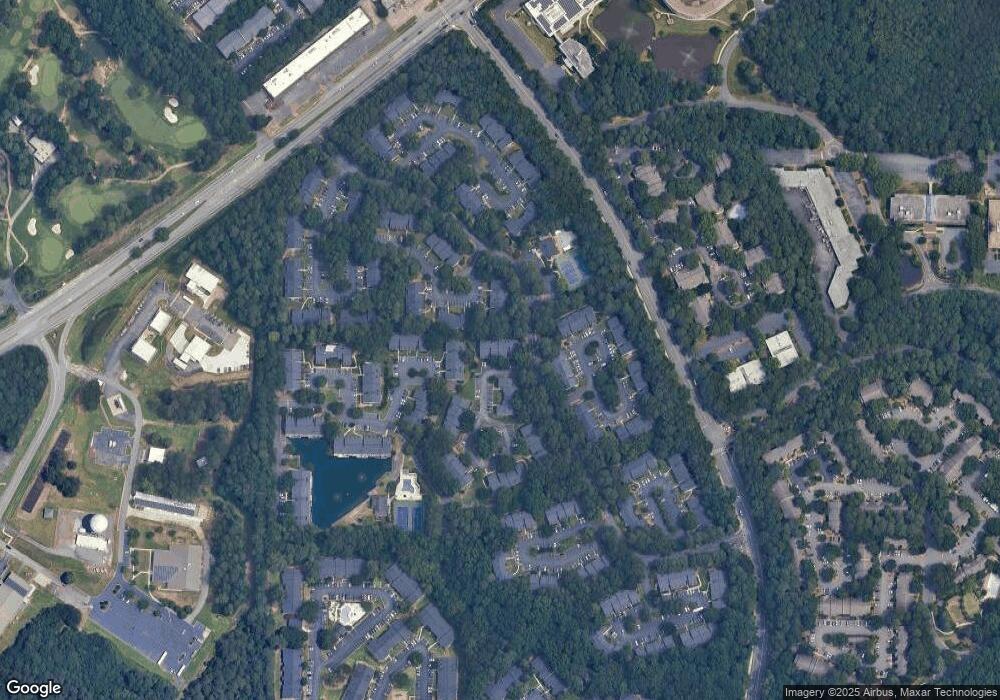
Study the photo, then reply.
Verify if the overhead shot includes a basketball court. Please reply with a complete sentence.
No, this view has no basketball court in it.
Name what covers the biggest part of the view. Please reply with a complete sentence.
What you mostly see from above here is trees.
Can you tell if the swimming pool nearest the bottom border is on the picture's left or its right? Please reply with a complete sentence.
The swimming pool nearest the bottom border sits on the left side.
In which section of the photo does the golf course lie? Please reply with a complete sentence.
The golf course is in the top left part of the image.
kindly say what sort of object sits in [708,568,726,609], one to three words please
building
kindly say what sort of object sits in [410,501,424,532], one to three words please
tennis court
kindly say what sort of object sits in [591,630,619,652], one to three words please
building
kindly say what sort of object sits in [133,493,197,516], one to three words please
shed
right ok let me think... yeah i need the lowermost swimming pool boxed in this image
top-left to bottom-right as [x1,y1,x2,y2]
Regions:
[328,599,368,628]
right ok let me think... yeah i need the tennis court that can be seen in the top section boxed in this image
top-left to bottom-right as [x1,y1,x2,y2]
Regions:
[556,252,587,288]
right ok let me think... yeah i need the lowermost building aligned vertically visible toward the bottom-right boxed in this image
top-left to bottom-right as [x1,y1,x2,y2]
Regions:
[895,626,908,678]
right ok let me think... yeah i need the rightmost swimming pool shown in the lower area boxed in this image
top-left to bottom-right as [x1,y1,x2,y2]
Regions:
[396,473,422,500]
